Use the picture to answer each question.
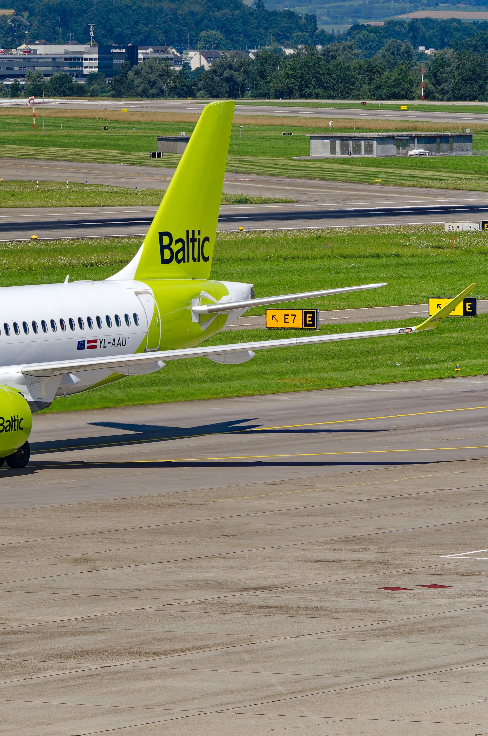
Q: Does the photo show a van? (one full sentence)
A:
No, there appears to be no van in this shot.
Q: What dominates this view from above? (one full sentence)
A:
The scene is dominated by paved ground.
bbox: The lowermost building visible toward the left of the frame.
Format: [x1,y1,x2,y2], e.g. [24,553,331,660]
[155,131,191,153]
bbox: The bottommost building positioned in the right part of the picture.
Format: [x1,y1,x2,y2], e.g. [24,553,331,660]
[301,127,476,157]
